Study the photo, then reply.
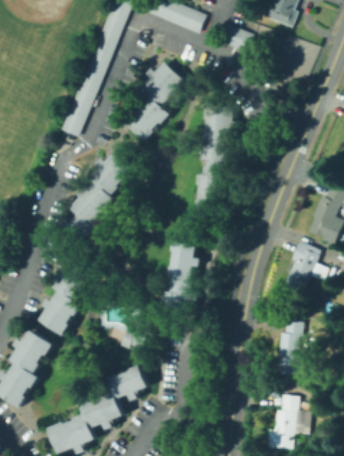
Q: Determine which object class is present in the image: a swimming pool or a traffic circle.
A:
swimming pool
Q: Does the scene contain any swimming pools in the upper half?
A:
No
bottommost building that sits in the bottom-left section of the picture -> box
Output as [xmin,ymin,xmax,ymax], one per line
[46,419,93,456]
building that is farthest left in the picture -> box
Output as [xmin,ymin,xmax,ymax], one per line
[0,332,50,408]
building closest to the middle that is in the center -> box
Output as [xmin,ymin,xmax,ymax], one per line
[166,245,199,298]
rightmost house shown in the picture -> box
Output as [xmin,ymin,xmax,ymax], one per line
[310,190,344,244]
